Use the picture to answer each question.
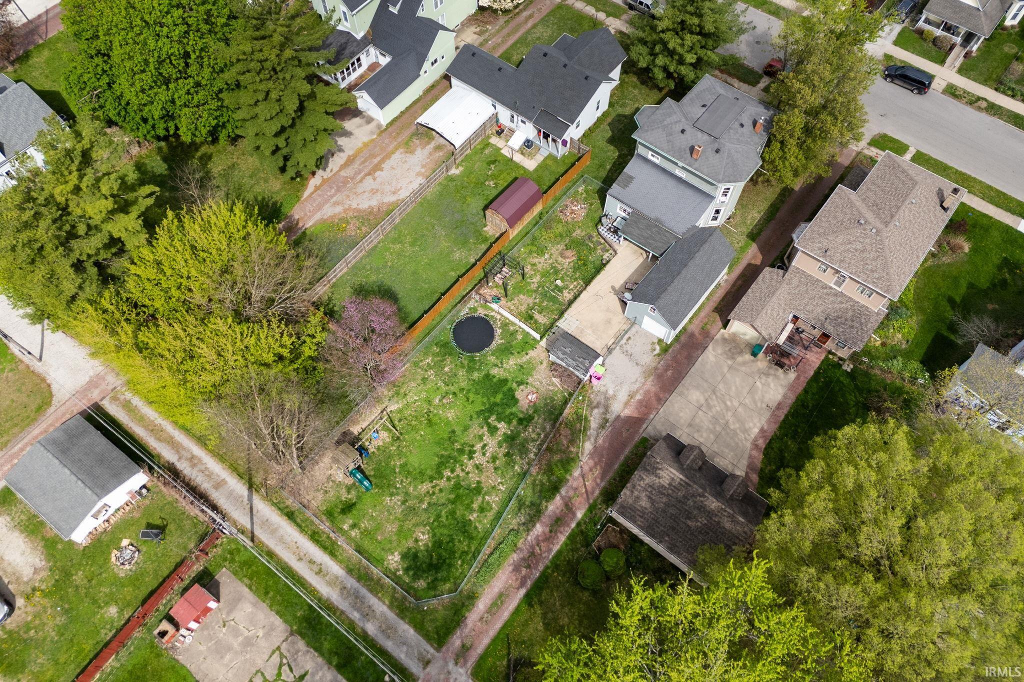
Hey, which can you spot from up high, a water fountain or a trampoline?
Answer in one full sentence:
Visible in the photo is a trampoline.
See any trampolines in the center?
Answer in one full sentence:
Yes, a trampoline is visible in the center.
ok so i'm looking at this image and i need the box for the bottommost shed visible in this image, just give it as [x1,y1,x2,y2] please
[170,581,227,635]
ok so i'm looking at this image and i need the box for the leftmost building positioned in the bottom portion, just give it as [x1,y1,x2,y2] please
[3,415,148,545]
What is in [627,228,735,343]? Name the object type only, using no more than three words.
building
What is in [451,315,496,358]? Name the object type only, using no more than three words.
trampoline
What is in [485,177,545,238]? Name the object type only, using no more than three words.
shed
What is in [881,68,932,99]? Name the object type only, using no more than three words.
car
